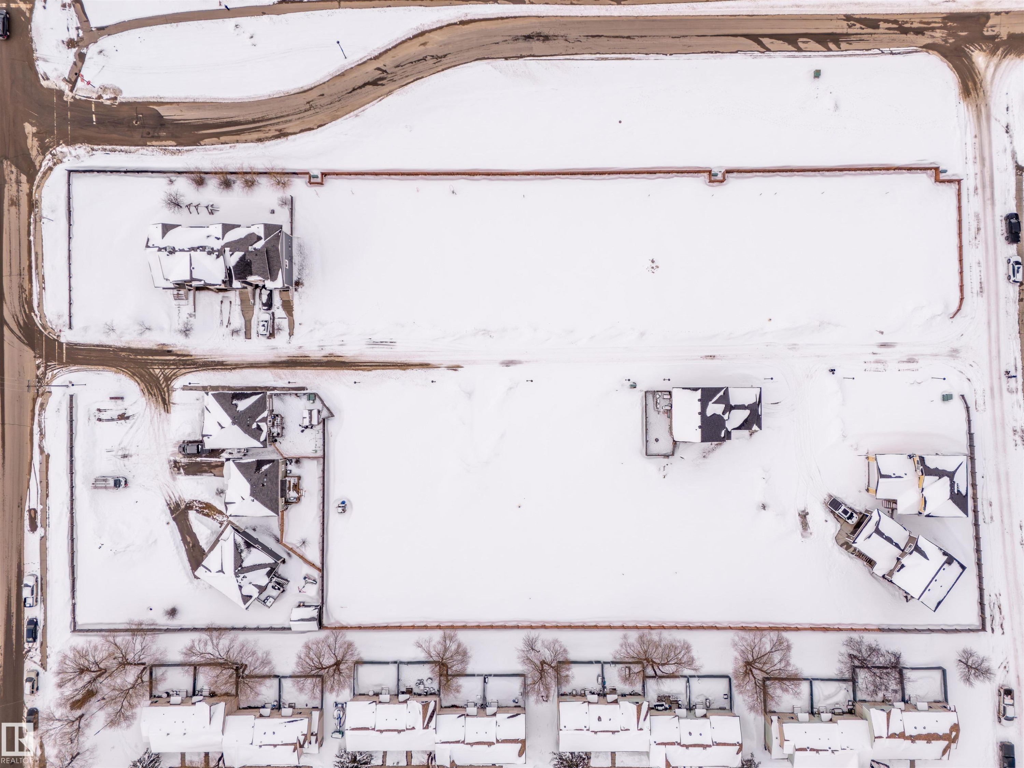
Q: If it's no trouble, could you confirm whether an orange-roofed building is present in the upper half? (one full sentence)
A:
No, no orange-roofed building can be made out in the upper half.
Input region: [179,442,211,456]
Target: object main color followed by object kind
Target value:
gray vehicle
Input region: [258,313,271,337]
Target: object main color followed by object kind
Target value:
white vehicle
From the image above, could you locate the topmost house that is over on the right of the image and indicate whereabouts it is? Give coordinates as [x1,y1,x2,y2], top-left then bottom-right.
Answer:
[655,387,762,443]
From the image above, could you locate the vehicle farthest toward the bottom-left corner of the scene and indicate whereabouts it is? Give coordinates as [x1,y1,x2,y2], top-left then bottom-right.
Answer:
[25,707,40,733]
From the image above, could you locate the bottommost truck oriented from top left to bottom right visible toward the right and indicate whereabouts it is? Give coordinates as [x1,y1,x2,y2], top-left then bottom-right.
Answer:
[826,497,858,524]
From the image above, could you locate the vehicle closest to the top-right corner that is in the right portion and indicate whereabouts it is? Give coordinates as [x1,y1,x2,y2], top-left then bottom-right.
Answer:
[1005,213,1022,244]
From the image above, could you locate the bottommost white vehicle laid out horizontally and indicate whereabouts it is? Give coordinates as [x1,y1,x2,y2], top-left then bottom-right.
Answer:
[91,476,127,490]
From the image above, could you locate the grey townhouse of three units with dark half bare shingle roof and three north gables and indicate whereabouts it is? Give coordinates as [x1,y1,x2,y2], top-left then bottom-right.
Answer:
[145,223,293,312]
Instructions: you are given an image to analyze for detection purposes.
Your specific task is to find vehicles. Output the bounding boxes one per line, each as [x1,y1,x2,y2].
[22,574,39,607]
[91,476,127,490]
[25,707,40,733]
[999,741,1015,768]
[1008,257,1024,283]
[258,313,271,337]
[998,687,1015,726]
[826,497,858,524]
[24,669,39,696]
[179,442,211,456]
[0,11,11,40]
[260,288,273,313]
[1005,213,1022,244]
[24,618,38,644]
